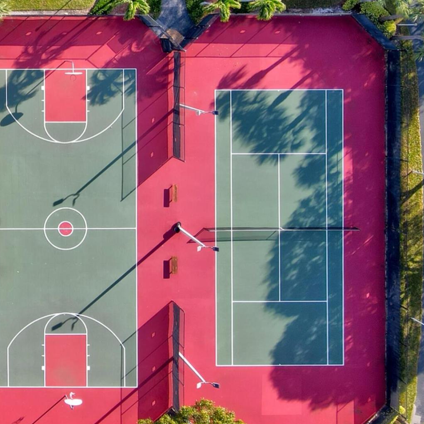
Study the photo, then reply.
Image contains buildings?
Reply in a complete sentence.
No, there isn't any building down there.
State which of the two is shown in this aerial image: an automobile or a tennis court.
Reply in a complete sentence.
Of the two, only a tennis court appears.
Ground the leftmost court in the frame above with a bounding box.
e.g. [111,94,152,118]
[0,69,137,388]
